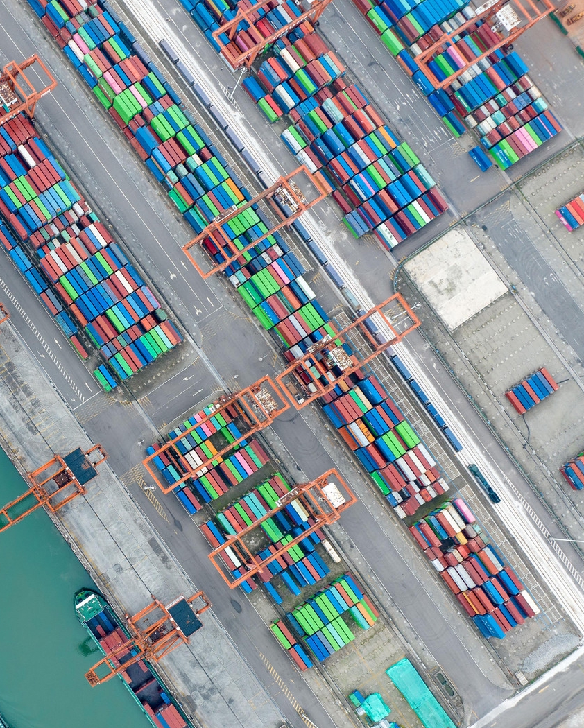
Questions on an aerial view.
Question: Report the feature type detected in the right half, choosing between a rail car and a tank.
rail car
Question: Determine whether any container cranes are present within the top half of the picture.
Yes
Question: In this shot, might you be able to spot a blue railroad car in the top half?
Yes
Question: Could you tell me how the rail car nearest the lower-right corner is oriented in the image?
diagonally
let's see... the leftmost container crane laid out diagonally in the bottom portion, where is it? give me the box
[0,444,107,534]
